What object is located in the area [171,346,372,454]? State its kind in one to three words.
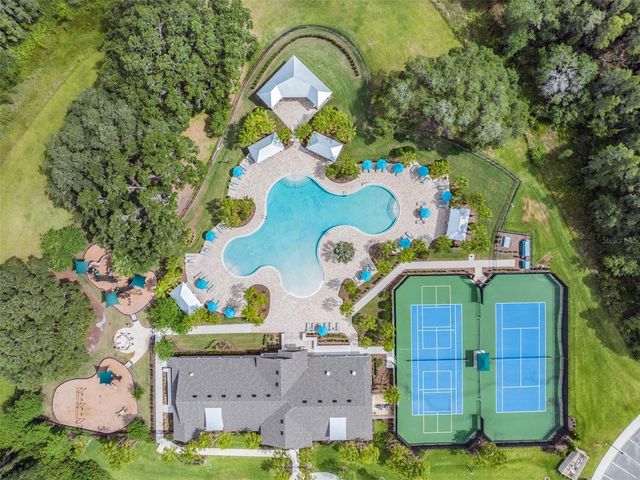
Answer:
building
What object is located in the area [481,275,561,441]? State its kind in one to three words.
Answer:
tennis court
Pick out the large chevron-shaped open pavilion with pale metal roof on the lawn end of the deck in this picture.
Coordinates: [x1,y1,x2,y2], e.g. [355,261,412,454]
[257,55,332,111]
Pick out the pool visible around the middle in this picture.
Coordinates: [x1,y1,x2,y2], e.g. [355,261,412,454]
[221,174,401,299]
